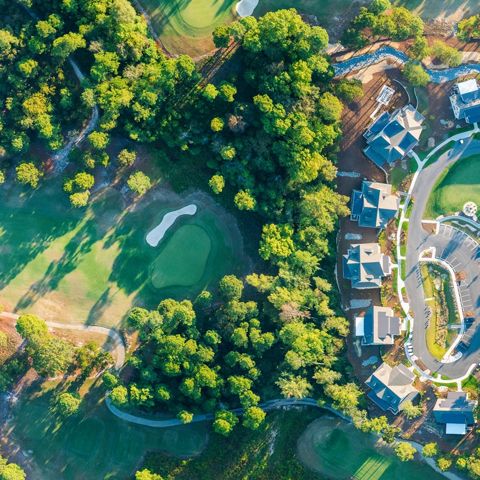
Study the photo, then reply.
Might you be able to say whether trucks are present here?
No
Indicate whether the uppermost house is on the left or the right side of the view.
right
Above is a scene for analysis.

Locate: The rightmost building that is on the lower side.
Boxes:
[436,389,477,433]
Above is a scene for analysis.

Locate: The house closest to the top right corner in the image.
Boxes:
[451,79,480,122]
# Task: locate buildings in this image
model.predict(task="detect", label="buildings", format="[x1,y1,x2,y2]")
[451,79,480,122]
[366,361,421,413]
[436,389,477,433]
[357,306,400,346]
[350,182,400,229]
[341,243,391,289]
[362,106,427,166]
